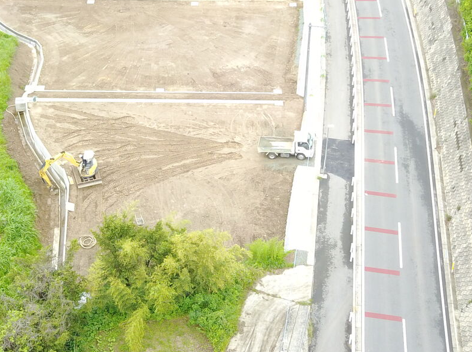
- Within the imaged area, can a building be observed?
No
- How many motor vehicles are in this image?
two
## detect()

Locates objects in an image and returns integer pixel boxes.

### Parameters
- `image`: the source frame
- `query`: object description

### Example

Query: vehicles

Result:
[258,131,315,163]
[39,147,98,192]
